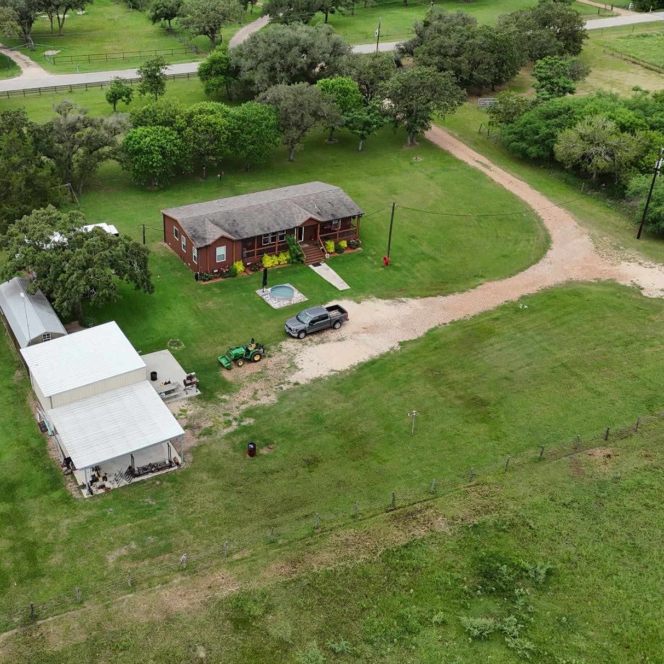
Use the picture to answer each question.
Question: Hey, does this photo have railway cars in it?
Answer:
No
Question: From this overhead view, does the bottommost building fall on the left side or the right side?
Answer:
left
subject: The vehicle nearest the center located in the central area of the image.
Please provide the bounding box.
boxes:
[280,303,350,340]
